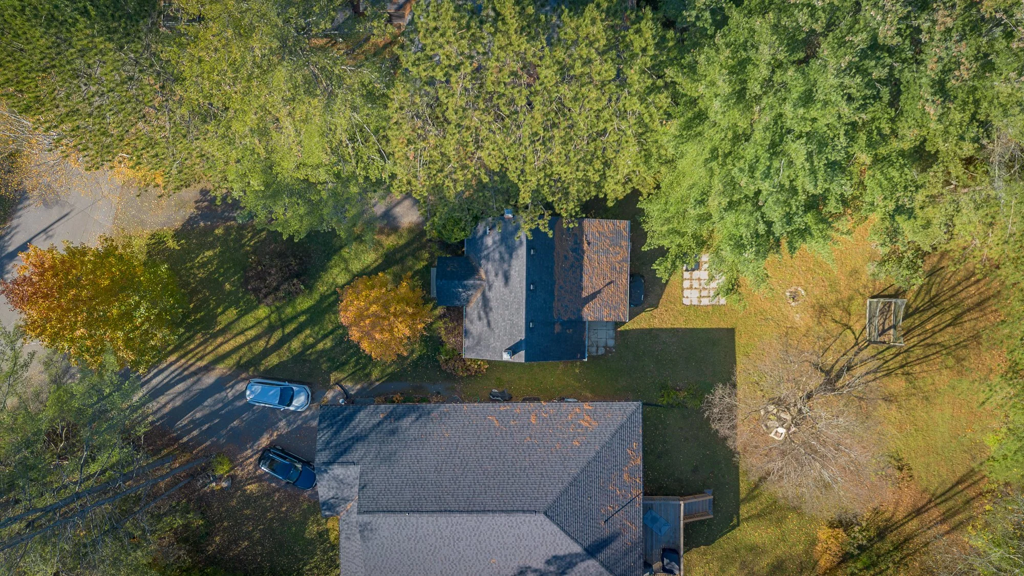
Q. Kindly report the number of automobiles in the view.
two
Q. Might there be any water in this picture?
No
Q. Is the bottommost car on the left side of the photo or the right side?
left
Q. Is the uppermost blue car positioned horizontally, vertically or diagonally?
horizontally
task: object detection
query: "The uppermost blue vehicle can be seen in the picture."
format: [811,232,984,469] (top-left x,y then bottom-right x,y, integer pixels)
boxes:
[247,379,313,412]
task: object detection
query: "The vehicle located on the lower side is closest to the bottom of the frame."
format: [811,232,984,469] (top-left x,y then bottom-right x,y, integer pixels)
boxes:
[256,444,316,489]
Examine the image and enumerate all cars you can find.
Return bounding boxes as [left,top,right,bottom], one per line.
[256,444,316,489]
[247,379,313,412]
